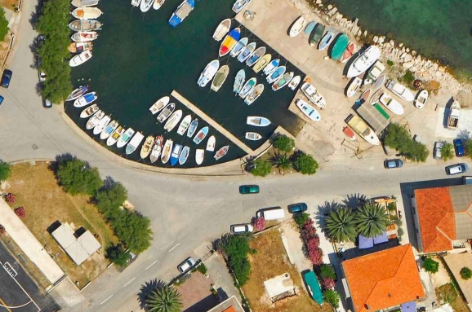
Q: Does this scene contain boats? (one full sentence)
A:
Yes, the photo shows a boat.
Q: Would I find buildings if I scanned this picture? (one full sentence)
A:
Yes, there's a building down there.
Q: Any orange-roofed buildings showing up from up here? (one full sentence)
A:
Yes, this view includes an orange-roofed building.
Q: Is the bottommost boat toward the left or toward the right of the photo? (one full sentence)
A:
The bottommost boat appears in the right half of the scene.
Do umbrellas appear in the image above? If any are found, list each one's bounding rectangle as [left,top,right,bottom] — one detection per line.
[400,302,416,312]
[373,232,387,245]
[358,235,372,247]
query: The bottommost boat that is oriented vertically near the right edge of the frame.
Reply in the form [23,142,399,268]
[448,100,461,129]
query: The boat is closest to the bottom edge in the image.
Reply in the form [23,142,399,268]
[305,273,325,306]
